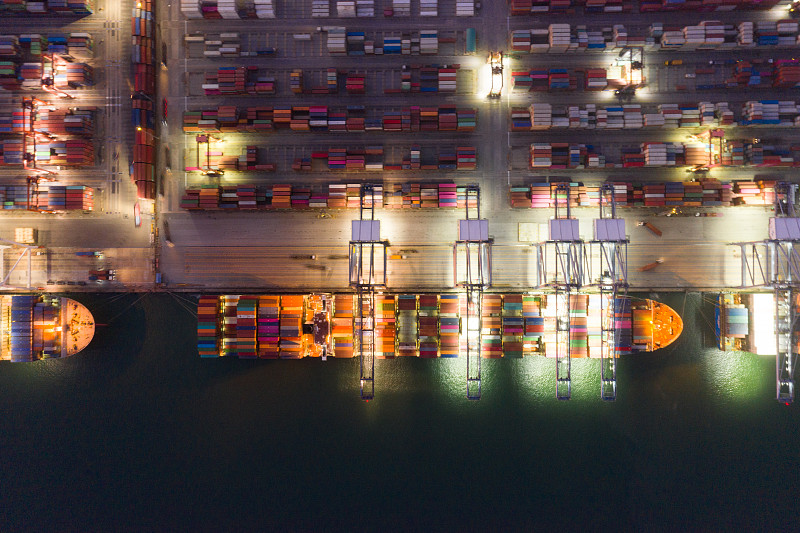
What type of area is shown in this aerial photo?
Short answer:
port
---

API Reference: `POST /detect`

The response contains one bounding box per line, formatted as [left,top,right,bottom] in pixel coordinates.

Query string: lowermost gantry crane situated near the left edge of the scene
[0,239,46,288]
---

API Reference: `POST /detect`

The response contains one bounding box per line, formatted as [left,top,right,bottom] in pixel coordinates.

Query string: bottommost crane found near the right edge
[727,184,800,404]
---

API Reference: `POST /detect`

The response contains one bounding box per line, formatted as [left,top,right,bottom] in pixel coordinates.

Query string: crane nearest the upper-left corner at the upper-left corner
[41,53,77,97]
